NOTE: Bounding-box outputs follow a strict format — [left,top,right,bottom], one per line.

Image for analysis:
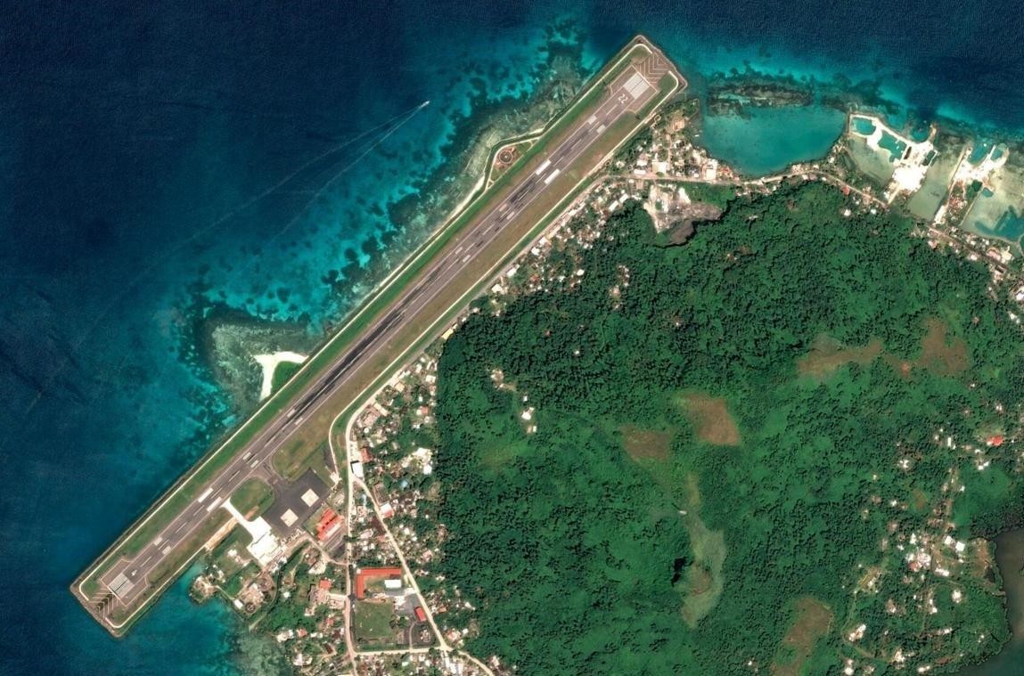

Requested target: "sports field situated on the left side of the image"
[356,602,393,640]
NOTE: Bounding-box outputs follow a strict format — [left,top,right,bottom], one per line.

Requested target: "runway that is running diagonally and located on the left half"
[101,65,657,606]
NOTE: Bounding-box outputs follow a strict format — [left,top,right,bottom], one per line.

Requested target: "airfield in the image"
[68,35,688,636]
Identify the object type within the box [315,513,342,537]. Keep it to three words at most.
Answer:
building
